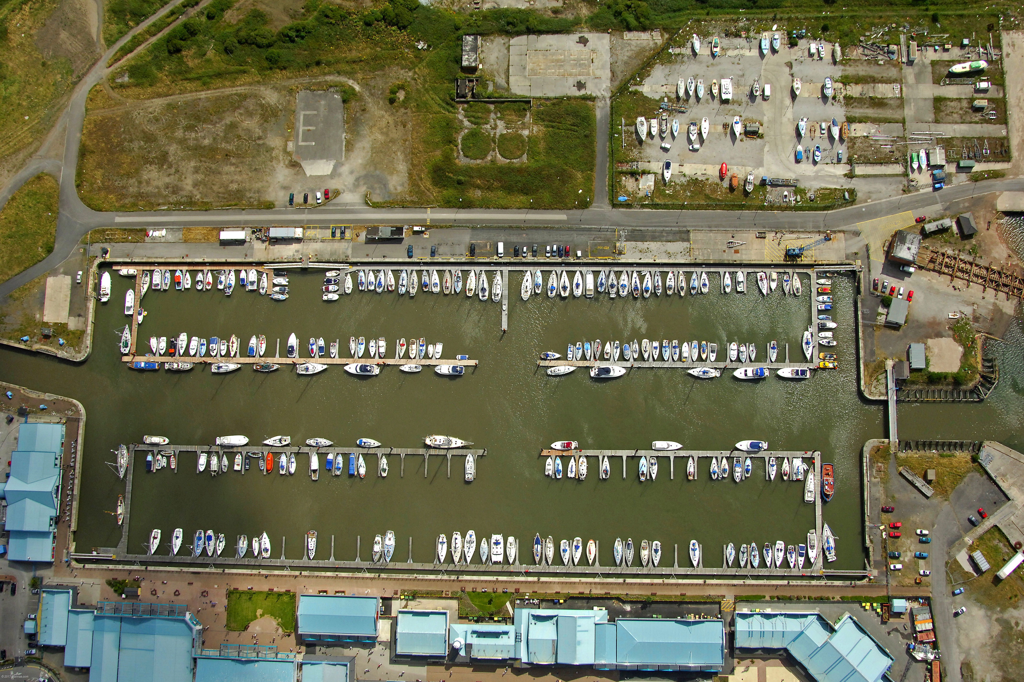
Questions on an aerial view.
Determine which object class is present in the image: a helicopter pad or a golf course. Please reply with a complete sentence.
Of the two, only a helicopter pad appears.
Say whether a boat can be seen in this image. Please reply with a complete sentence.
Yes, a boat can be made out from above.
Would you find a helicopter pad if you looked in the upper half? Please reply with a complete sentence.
Yes, there is a helicopter pad in the upper half.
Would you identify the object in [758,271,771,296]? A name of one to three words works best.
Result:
boat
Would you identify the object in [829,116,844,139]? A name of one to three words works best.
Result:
boat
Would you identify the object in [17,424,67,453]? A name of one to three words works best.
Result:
building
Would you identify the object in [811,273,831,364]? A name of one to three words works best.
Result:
pier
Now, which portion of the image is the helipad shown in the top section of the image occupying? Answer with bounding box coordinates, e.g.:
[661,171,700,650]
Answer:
[293,89,345,160]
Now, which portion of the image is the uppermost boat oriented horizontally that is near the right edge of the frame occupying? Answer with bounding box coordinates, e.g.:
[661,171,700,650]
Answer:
[950,61,988,73]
